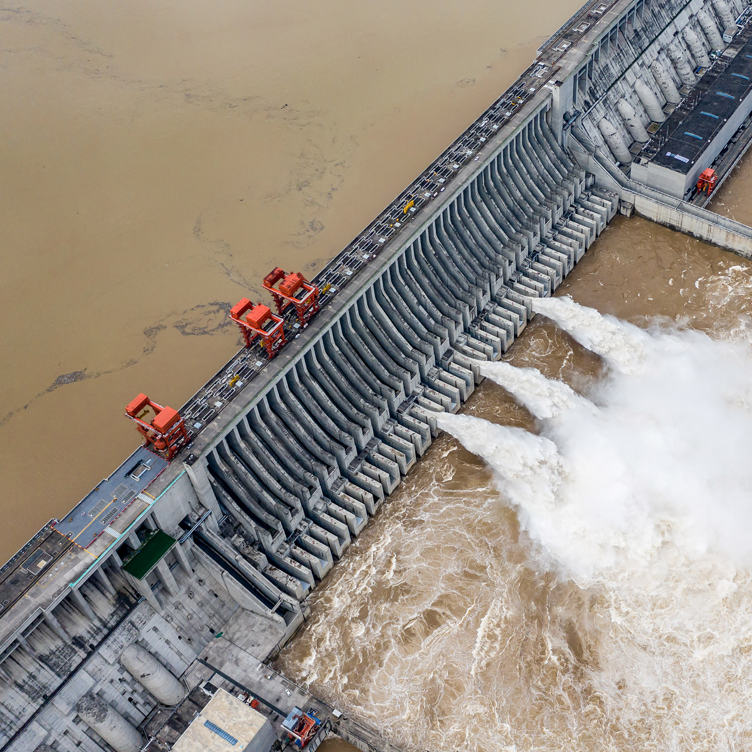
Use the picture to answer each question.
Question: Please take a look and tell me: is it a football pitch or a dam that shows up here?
dam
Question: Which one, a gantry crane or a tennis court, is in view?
gantry crane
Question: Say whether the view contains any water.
Yes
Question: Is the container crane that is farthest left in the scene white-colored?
No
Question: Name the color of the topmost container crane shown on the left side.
red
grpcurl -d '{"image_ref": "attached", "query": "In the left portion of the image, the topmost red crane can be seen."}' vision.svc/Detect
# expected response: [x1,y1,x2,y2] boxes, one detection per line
[260,265,321,328]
